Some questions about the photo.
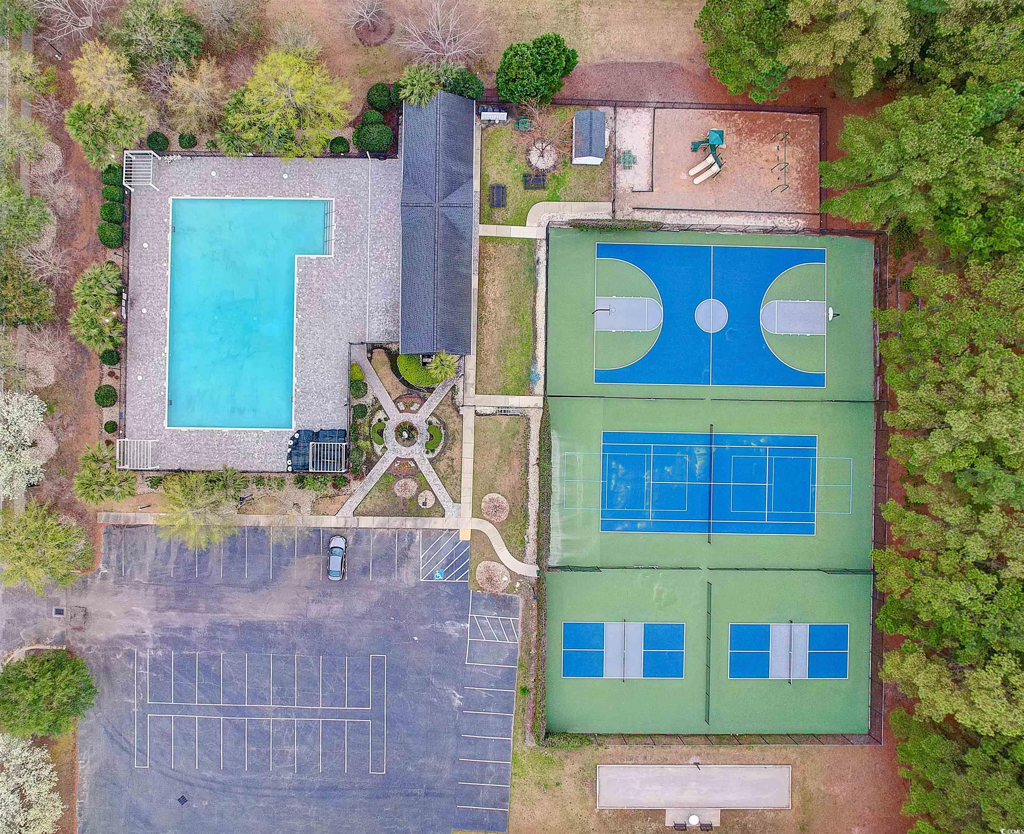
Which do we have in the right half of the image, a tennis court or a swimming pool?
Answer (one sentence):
The one visible in the right half of the image is a tennis court.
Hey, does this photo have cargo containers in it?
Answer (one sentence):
No, there is no cargo container in the image.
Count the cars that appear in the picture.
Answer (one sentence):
The photo contains exactly 1 car.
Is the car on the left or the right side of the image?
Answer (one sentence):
You can find the car on the left side of the picture.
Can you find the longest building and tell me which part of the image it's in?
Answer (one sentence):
The longest building sits in the top section of the image.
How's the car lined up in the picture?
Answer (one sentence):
The car is oriented vertically.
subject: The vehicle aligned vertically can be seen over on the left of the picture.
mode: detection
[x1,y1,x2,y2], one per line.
[328,537,348,582]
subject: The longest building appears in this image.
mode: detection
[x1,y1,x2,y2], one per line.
[399,89,476,355]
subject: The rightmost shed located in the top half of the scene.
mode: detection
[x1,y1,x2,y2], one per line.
[574,107,606,164]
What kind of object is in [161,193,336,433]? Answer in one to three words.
swimming pool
